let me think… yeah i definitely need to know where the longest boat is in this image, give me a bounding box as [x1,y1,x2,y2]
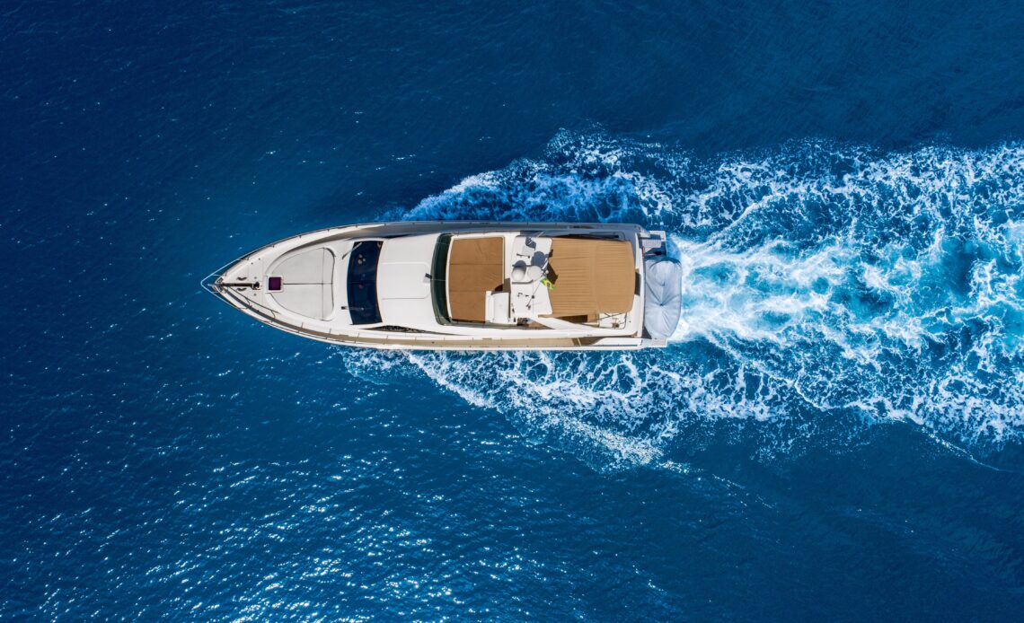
[201,220,667,350]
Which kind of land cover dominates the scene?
water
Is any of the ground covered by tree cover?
No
